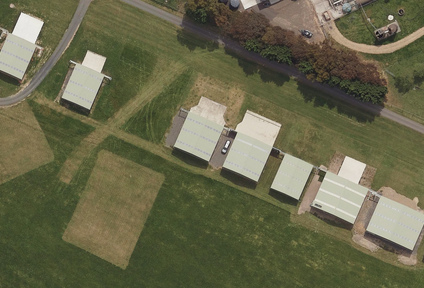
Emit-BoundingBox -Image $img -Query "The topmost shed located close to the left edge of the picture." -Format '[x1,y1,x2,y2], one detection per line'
[0,32,36,79]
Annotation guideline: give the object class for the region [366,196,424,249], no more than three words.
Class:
shed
